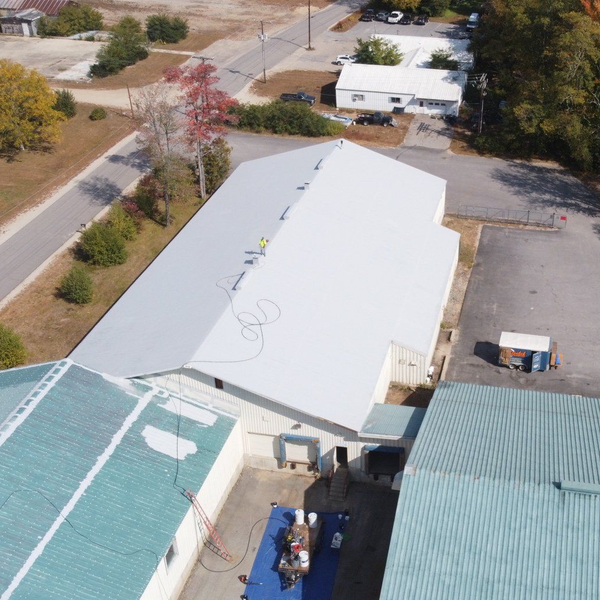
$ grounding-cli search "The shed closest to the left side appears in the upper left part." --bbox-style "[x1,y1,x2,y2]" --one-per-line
[0,15,32,43]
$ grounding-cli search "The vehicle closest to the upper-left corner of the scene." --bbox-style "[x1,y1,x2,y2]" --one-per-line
[278,87,319,103]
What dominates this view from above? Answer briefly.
buildings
